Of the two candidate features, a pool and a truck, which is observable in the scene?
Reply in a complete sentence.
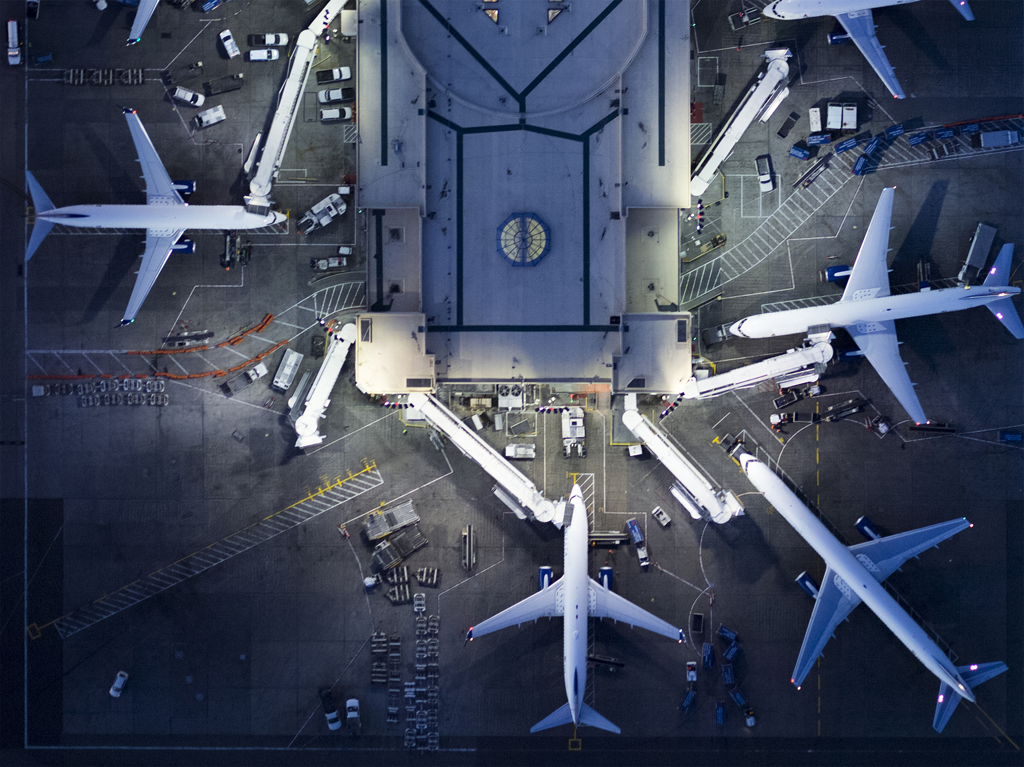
It is a truck that can be seen here.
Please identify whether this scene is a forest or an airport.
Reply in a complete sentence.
It's an airport.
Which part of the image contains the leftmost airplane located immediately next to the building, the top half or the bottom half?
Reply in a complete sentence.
Seen from above, the leftmost airplane located immediately next to the building lies in the top half of the view.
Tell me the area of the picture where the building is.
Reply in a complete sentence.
The building is in the top part of the image.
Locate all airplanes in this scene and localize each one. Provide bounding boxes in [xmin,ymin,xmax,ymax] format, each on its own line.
[466,485,687,734]
[25,106,287,326]
[729,186,1024,426]
[124,0,161,44]
[763,0,911,97]
[740,456,1010,734]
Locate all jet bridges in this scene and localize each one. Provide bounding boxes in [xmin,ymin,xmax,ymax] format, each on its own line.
[684,331,839,404]
[281,325,356,443]
[691,50,796,192]
[241,0,349,211]
[410,393,571,530]
[623,394,742,529]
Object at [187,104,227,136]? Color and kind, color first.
white truck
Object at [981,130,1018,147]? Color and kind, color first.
blue vehicle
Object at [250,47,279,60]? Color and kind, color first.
white vehicle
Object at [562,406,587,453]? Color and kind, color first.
white work vehicle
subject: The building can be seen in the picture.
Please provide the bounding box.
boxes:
[342,0,692,394]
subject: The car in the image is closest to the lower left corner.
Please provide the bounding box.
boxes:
[110,671,127,698]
